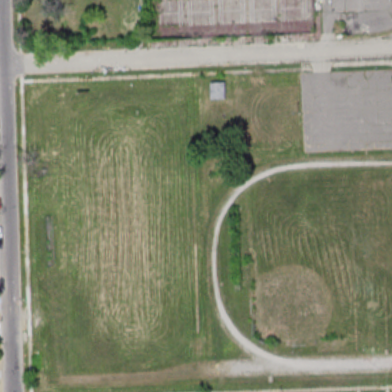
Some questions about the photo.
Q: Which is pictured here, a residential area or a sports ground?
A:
sports ground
